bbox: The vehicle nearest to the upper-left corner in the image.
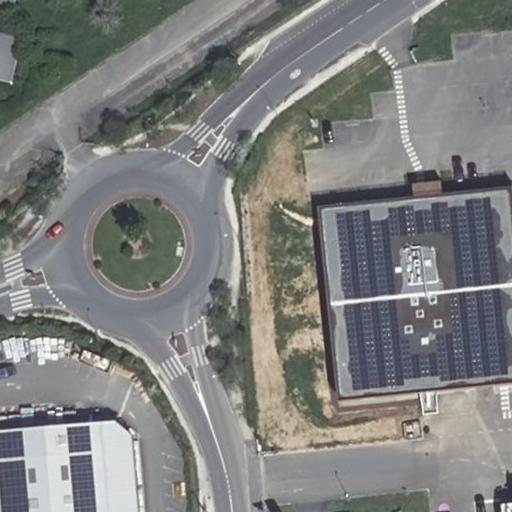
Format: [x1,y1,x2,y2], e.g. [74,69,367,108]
[46,222,66,238]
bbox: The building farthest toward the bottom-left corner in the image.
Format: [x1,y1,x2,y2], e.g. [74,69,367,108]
[0,421,146,512]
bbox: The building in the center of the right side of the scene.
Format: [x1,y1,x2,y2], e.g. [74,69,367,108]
[318,180,512,400]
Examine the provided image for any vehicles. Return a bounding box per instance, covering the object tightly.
[322,120,334,142]
[454,158,464,182]
[476,496,486,512]
[0,366,16,376]
[468,164,478,184]
[46,222,66,238]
